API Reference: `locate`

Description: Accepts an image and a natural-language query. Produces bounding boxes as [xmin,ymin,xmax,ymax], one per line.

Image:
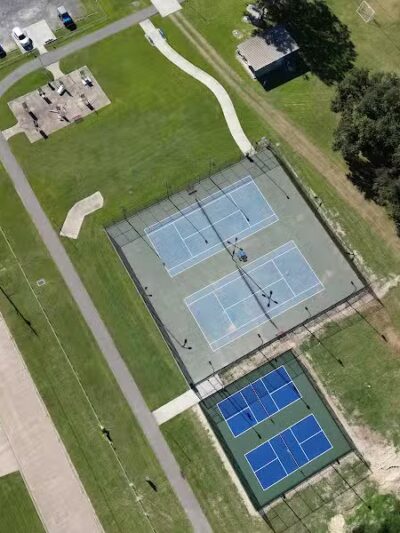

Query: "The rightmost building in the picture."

[232,24,299,80]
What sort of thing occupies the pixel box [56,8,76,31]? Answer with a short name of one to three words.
vehicle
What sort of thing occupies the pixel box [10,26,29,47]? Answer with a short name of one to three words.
car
